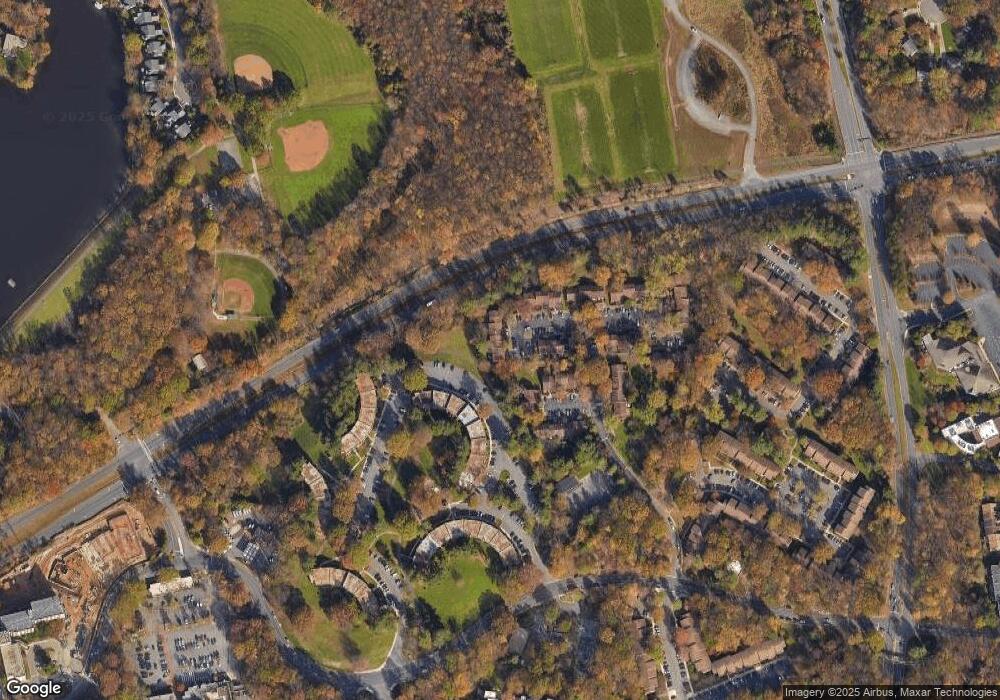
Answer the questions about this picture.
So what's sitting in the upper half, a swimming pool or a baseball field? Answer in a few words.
baseball field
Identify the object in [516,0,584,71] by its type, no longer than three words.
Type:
sports field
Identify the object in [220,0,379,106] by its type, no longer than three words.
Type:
baseball field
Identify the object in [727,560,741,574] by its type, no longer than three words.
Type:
gazebo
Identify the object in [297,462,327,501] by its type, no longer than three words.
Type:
building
